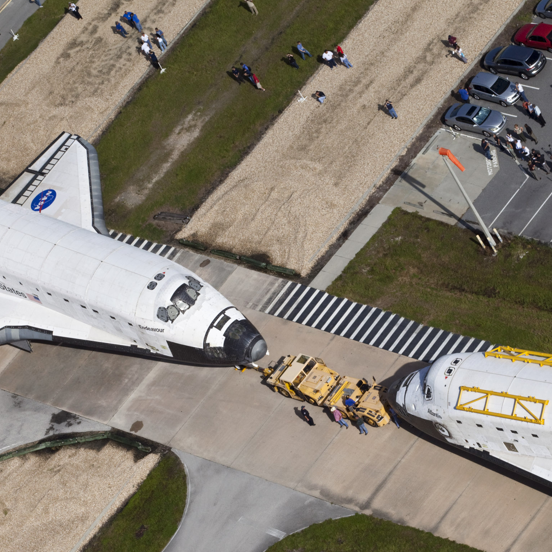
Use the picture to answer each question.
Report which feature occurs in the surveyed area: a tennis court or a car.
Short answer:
car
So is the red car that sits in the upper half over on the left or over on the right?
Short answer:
right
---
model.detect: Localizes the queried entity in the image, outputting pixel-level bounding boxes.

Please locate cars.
[464,71,523,107]
[443,102,509,138]
[530,0,552,18]
[509,17,552,53]
[481,42,545,81]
